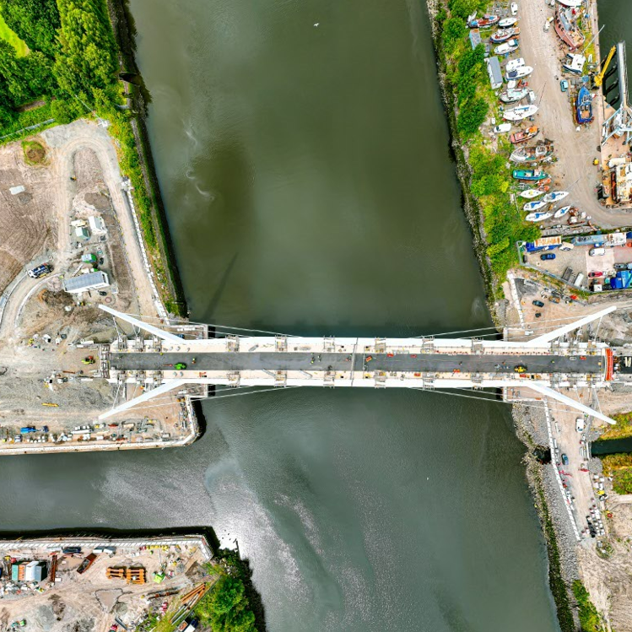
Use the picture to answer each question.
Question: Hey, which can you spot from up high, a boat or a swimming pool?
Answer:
boat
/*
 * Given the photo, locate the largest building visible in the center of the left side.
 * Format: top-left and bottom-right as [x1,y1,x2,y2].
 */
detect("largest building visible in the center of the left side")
[63,268,112,292]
